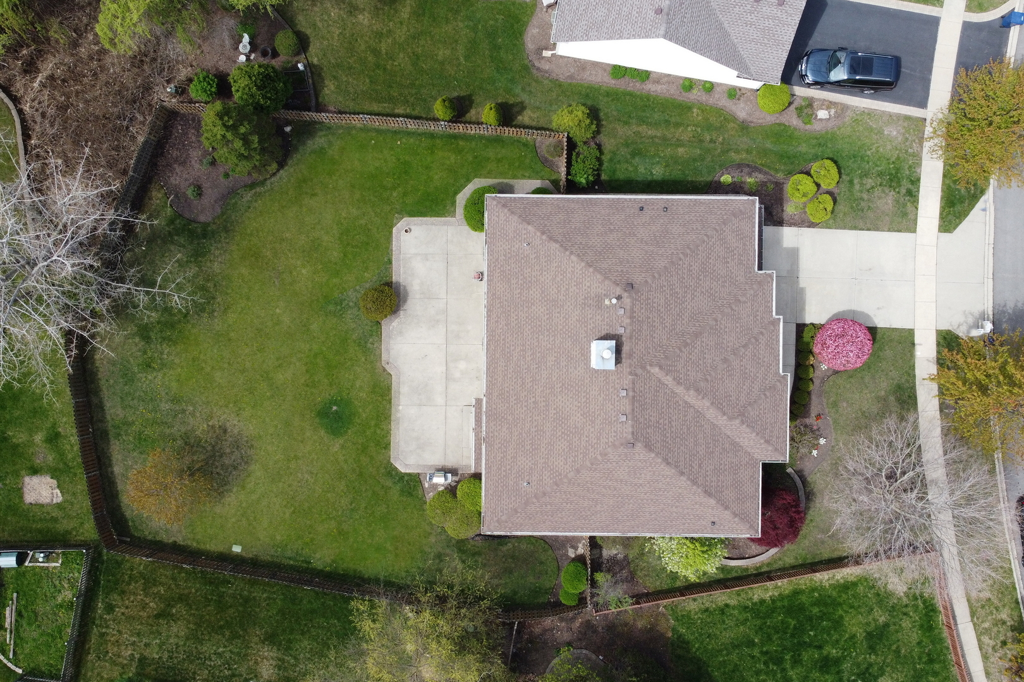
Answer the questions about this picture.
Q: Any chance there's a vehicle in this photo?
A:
Yes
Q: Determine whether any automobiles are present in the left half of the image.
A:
No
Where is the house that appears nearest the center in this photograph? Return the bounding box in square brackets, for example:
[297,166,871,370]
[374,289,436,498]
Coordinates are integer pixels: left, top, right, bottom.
[471,194,790,538]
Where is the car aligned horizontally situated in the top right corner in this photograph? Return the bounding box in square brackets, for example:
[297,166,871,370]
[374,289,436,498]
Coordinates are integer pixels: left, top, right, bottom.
[801,44,903,93]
